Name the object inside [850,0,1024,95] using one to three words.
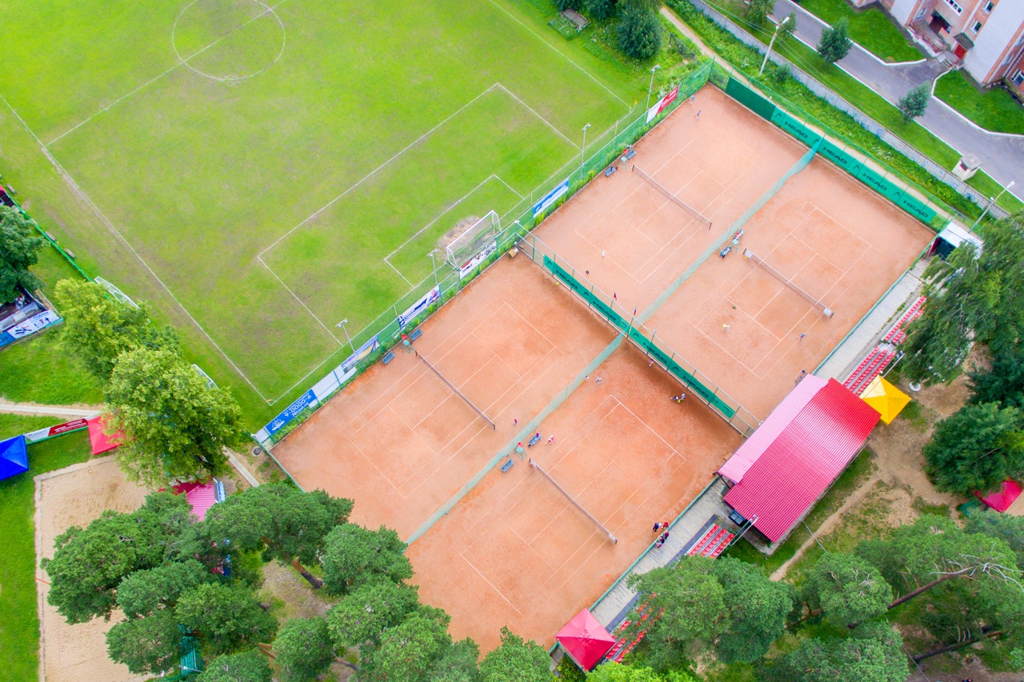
building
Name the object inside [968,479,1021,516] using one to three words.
tent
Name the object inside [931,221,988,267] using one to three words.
shed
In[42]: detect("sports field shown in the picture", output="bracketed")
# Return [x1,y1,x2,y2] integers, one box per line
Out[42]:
[0,0,666,445]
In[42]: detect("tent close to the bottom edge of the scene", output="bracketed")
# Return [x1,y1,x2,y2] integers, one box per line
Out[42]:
[556,608,616,671]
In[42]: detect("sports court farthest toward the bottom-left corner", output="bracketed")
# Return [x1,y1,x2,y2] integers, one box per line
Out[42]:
[34,447,178,682]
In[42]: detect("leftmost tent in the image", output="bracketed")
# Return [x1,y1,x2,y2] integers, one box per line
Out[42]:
[0,436,40,482]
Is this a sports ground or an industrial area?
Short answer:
sports ground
